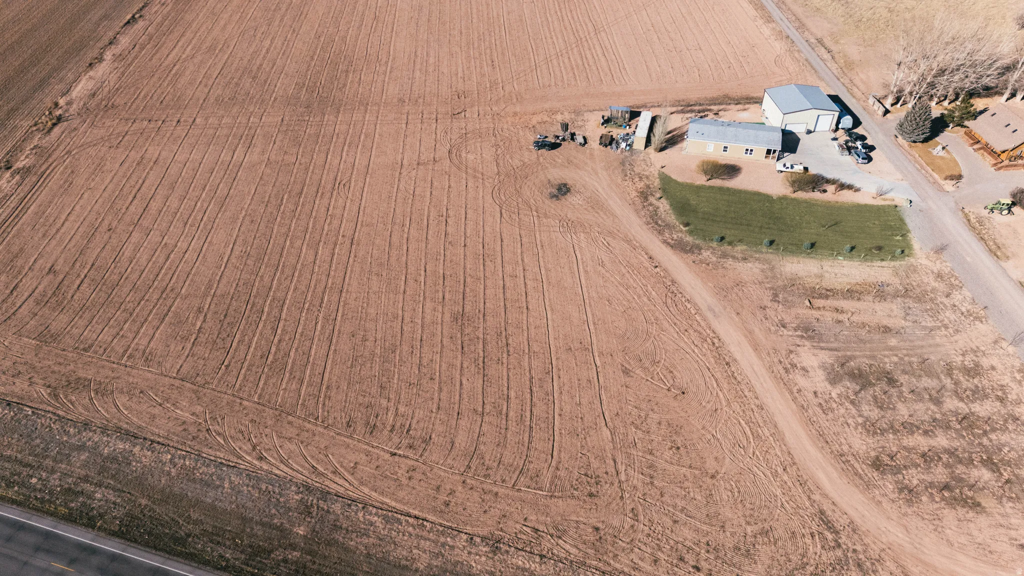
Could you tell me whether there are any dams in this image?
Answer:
No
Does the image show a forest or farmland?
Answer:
farmland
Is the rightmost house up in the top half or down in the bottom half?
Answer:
top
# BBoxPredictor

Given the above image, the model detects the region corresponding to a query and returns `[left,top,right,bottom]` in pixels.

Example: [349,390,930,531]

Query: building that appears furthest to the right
[962,103,1024,174]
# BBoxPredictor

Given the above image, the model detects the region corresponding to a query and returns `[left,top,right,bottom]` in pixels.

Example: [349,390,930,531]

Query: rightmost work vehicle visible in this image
[987,199,1012,216]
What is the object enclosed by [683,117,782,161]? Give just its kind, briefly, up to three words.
house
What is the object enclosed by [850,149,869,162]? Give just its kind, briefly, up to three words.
vehicle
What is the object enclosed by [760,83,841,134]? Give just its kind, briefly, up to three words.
building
